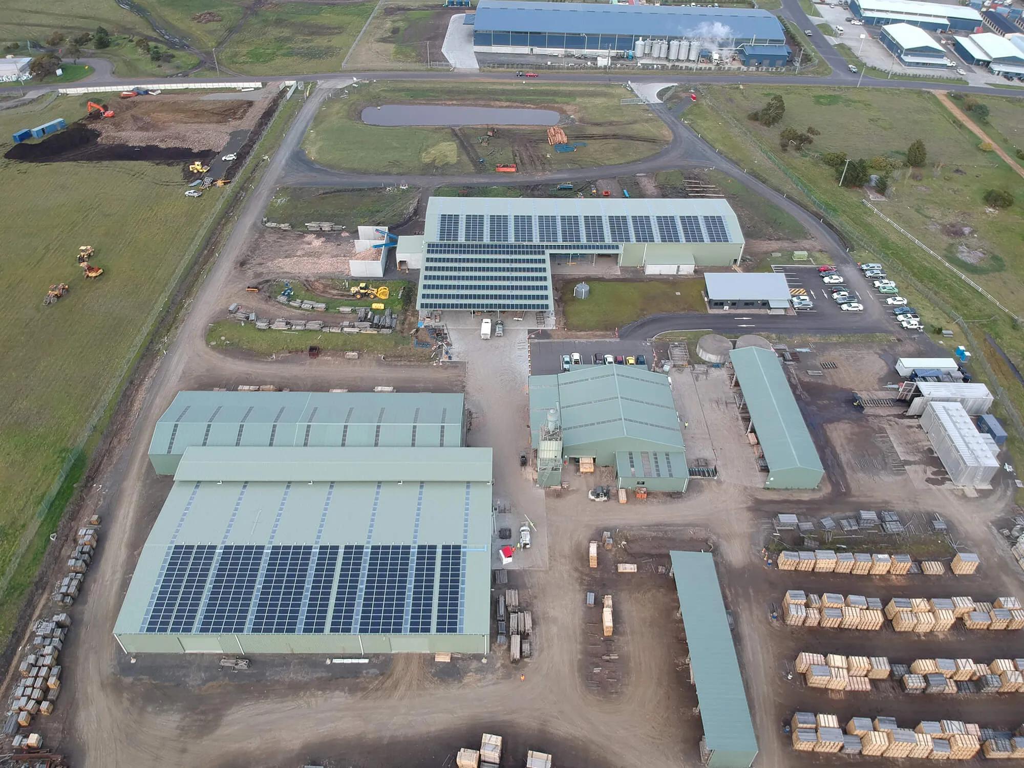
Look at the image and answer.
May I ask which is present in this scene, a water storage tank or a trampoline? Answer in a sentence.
There is a water storage tank in the scene.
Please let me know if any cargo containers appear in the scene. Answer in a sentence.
Yes, the frame does contain a cargo container.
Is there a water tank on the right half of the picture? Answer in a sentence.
Yes, you'll find a water tank on the right half of the picture.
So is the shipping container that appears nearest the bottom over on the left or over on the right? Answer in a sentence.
It is on the right.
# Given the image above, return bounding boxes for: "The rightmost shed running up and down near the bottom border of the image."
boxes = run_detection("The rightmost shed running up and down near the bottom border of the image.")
[668,549,757,766]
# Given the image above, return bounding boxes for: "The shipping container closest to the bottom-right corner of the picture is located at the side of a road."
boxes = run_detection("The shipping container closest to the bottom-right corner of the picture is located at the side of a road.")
[972,412,1010,443]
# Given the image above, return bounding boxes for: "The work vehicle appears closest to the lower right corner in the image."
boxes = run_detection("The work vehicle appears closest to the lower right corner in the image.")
[850,394,866,407]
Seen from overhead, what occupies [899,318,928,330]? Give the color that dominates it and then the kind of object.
white vehicle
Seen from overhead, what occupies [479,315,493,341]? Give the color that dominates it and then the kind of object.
white vehicle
